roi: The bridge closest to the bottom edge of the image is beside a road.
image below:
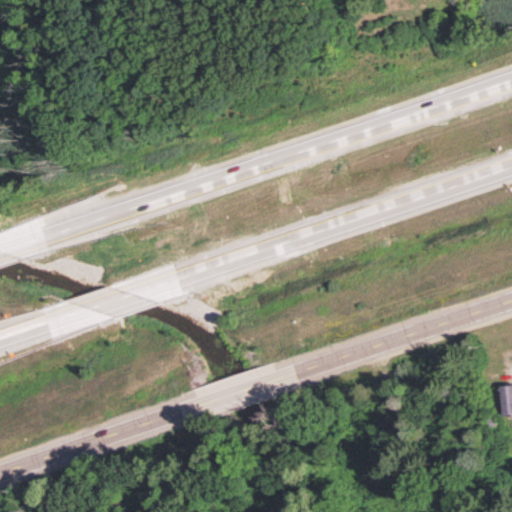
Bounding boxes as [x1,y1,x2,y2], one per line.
[188,358,300,421]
